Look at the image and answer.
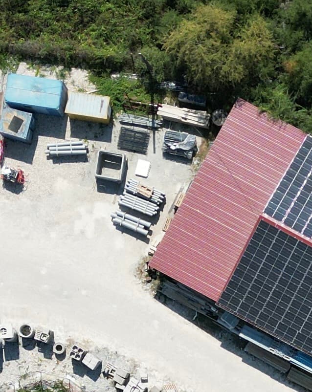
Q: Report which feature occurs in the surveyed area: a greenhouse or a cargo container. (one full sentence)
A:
Of the two, only a cargo container appears.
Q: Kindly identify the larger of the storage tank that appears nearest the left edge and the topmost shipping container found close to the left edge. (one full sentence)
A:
Compared with the storage tank, the shipping container is the larger one.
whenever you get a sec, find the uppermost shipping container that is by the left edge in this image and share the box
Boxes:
[6,73,67,115]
